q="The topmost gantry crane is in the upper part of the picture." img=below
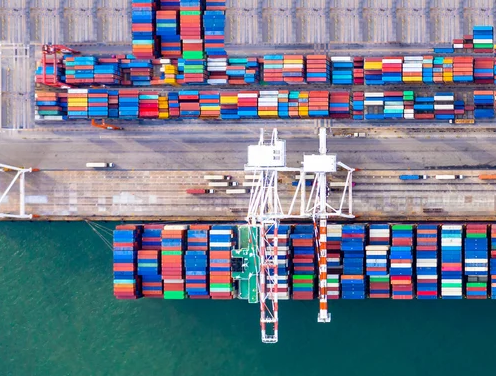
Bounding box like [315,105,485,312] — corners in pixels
[42,43,79,89]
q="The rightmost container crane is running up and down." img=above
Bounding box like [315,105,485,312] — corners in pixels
[304,128,362,323]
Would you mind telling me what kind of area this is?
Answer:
port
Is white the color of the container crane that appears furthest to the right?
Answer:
Yes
